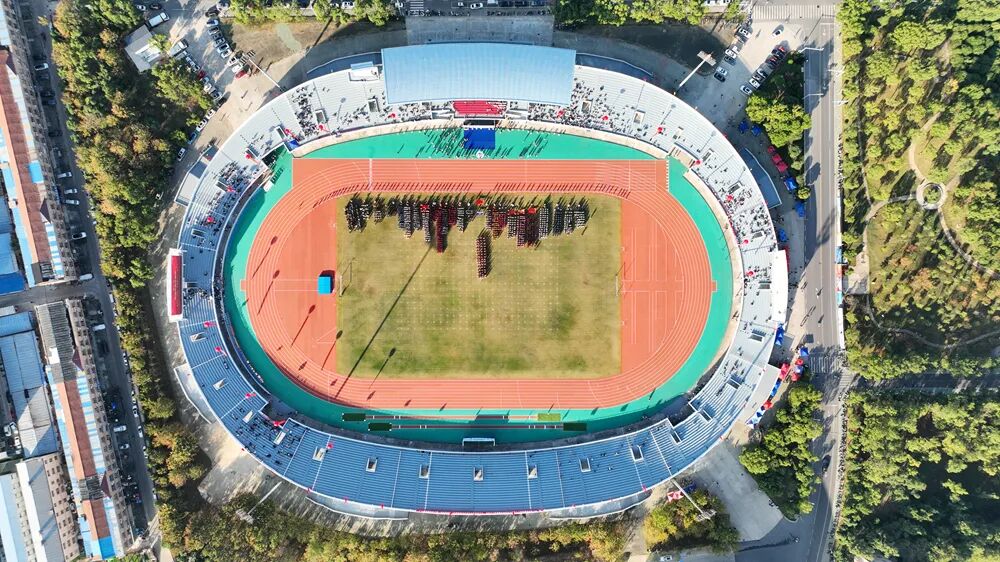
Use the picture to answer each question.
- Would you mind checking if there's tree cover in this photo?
Yes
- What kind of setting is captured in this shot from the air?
sports ground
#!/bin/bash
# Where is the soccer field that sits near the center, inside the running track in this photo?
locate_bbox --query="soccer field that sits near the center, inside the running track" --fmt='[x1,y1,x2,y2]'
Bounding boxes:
[338,192,621,378]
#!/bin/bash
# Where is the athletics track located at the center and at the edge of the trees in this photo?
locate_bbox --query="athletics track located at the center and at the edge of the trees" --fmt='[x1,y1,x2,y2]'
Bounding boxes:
[224,130,732,442]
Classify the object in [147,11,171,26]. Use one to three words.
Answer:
vehicle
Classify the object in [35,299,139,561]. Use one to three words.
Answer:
building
